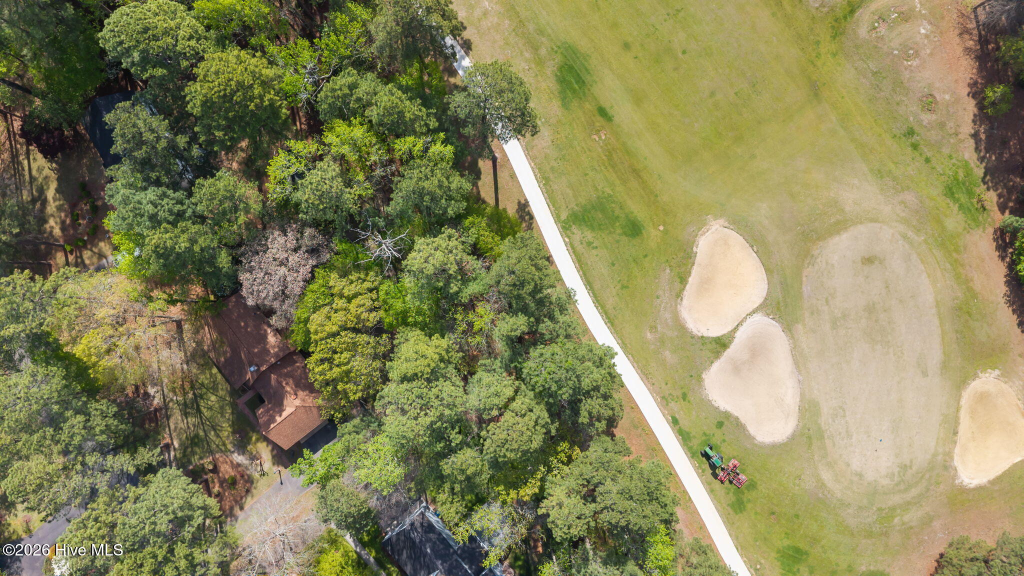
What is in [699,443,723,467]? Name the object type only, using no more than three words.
work vehicle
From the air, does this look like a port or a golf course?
golf course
